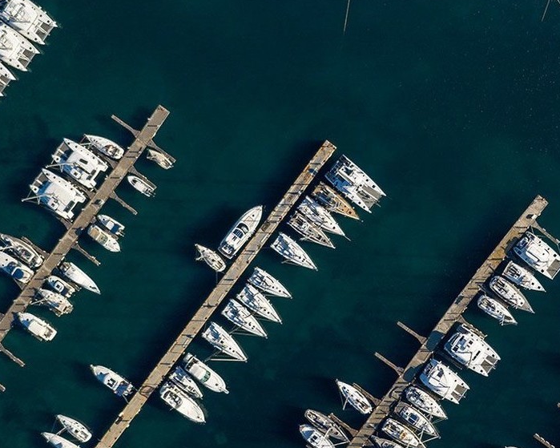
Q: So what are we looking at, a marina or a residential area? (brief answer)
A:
marina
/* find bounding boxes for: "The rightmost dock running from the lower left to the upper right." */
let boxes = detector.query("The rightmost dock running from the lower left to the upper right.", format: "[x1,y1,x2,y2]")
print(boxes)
[306,195,559,448]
